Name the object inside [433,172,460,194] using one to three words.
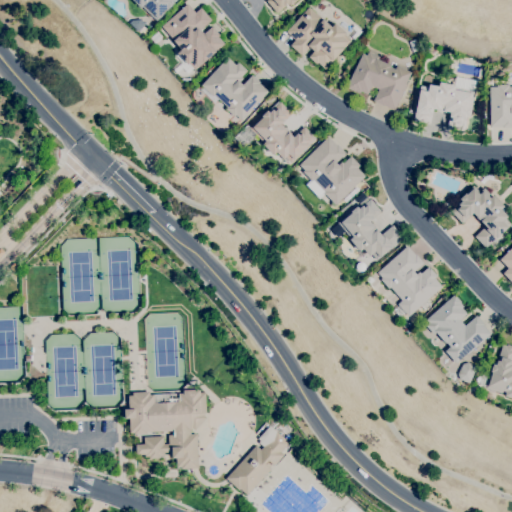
swimming pool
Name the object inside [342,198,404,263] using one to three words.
house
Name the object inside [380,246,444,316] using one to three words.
house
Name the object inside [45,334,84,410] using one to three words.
tennis court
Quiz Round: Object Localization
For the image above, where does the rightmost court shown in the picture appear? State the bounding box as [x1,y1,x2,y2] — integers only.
[146,313,187,390]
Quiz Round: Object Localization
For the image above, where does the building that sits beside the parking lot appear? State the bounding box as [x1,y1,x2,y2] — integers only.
[125,390,207,470]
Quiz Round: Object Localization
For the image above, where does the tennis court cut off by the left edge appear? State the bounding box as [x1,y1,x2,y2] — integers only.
[0,308,24,381]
